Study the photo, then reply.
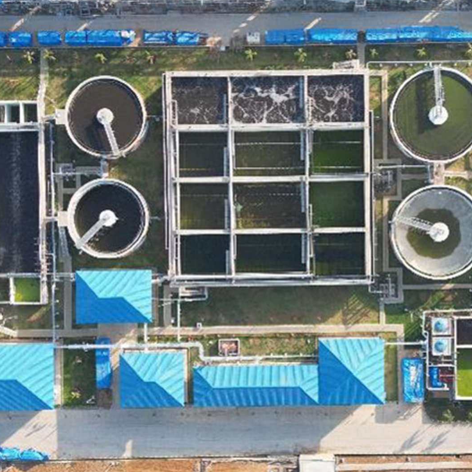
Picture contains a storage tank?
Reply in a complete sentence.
Yes, there's a storage tank here.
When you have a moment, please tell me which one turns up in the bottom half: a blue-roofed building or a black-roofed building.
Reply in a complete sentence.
Looking in the bottom half, you will find a blue-roofed building.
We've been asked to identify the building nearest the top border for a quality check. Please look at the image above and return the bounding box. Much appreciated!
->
[75,270,152,324]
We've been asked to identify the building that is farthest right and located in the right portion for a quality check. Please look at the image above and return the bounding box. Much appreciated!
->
[319,337,385,405]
